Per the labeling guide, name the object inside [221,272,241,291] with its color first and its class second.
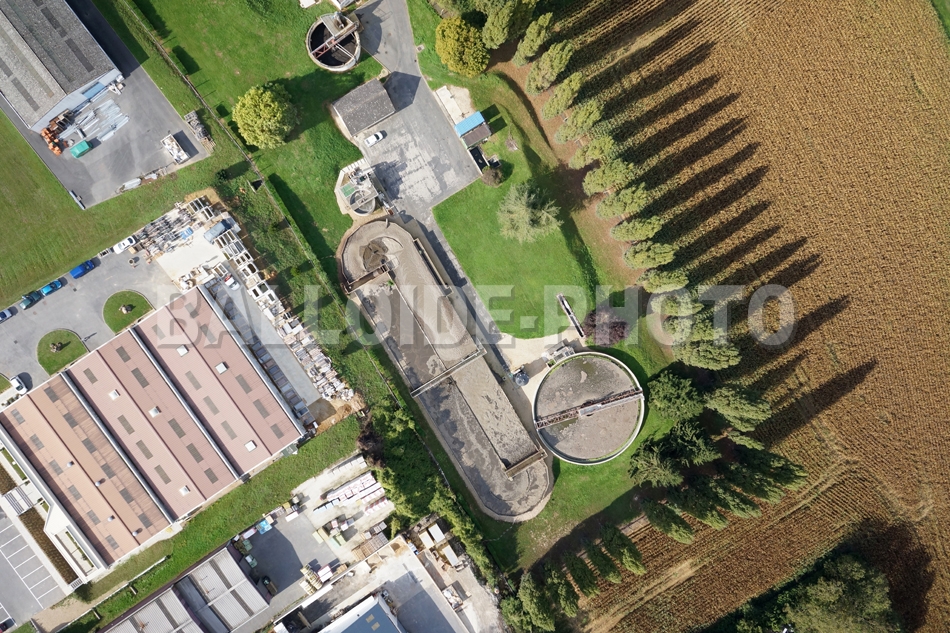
white vehicle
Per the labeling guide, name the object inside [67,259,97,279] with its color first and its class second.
blue vehicle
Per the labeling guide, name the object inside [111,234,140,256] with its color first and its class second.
white car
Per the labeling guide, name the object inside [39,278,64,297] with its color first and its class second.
blue car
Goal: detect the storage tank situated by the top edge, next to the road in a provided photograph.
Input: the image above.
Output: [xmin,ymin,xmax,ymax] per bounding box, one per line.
[305,10,365,76]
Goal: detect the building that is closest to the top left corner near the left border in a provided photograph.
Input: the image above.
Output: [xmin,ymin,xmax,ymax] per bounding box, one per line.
[0,0,122,130]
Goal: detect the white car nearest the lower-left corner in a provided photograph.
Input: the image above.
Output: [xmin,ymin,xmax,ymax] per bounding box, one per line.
[7,375,31,394]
